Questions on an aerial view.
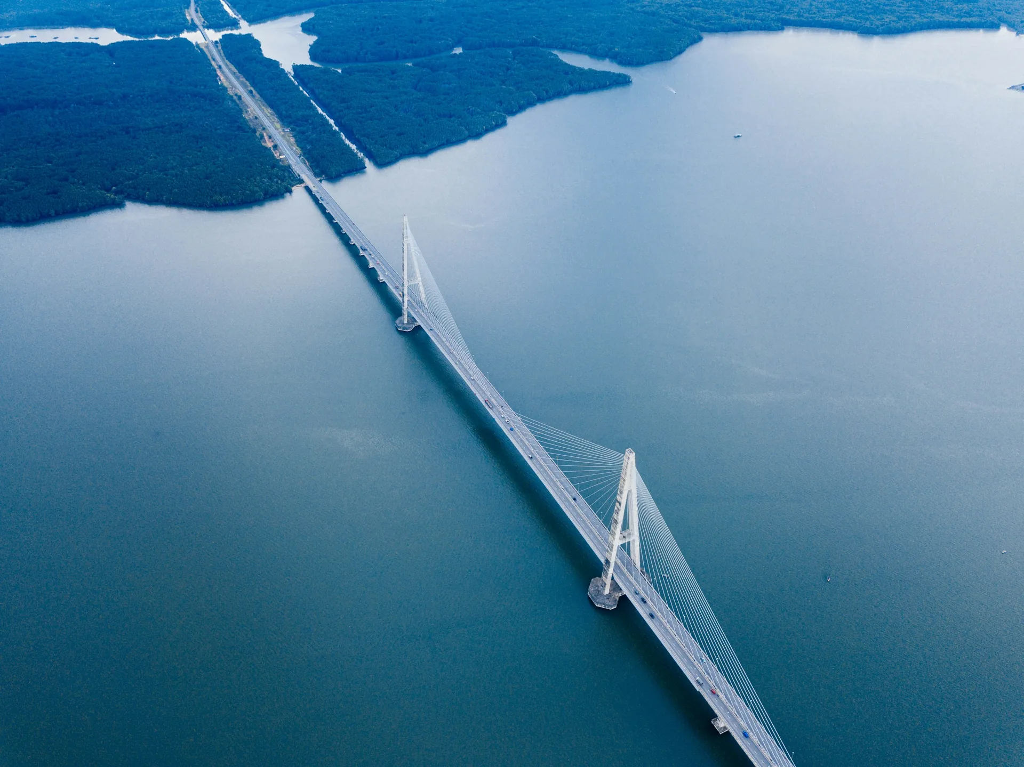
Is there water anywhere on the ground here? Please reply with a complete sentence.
Yes, there's water in this view.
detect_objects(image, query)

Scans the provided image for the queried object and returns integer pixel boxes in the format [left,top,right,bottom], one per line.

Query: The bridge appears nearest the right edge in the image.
[307,182,795,767]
